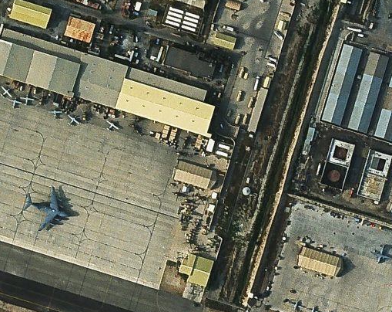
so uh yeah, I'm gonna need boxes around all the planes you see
[378,244,392,262]
[106,119,118,131]
[23,185,69,229]
[47,107,62,119]
[7,97,22,109]
[67,113,79,126]
[0,86,12,98]
[20,95,35,105]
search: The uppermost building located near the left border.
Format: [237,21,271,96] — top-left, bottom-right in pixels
[8,0,52,28]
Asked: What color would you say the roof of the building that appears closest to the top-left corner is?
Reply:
yellow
